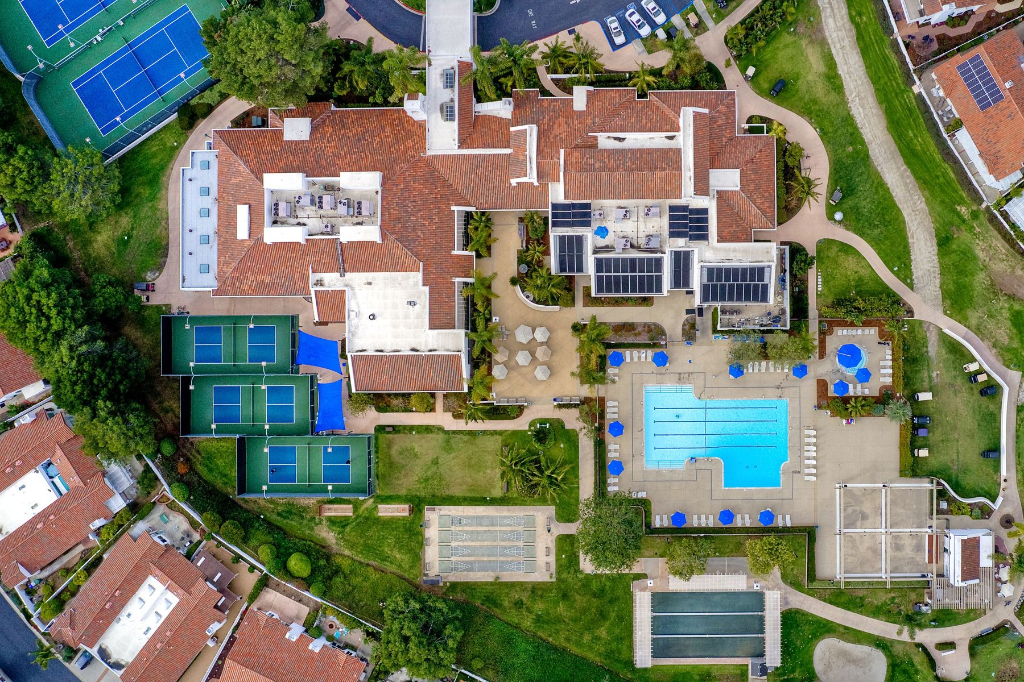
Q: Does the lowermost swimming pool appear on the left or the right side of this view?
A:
right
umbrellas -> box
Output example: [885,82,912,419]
[854,367,871,383]
[608,460,623,476]
[759,509,774,526]
[837,345,861,369]
[492,364,508,379]
[728,363,744,378]
[493,347,508,361]
[535,364,549,381]
[608,421,623,437]
[653,351,667,367]
[671,511,687,527]
[792,362,807,379]
[516,350,531,365]
[718,509,734,525]
[608,351,624,367]
[994,565,1011,582]
[515,325,533,343]
[832,380,848,396]
[536,346,551,361]
[535,326,549,342]
[995,582,1017,599]
[829,212,842,221]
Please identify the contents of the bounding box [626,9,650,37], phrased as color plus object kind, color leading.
white car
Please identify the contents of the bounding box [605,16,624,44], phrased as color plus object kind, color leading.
white car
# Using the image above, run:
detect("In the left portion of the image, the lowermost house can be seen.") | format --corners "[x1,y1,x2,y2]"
[218,606,367,682]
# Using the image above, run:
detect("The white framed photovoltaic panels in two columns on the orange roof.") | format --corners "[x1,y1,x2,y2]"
[956,53,1005,111]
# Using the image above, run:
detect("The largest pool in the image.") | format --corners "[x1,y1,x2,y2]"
[640,384,793,492]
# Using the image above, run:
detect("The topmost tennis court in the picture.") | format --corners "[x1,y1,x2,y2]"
[20,0,116,45]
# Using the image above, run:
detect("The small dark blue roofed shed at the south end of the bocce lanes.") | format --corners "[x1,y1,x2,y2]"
[748,657,767,677]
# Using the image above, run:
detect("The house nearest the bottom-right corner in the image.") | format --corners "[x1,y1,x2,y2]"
[936,528,993,585]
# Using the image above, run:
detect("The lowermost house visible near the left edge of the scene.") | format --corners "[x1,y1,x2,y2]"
[50,518,243,682]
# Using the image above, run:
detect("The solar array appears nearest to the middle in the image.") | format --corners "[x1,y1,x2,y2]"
[558,237,584,271]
